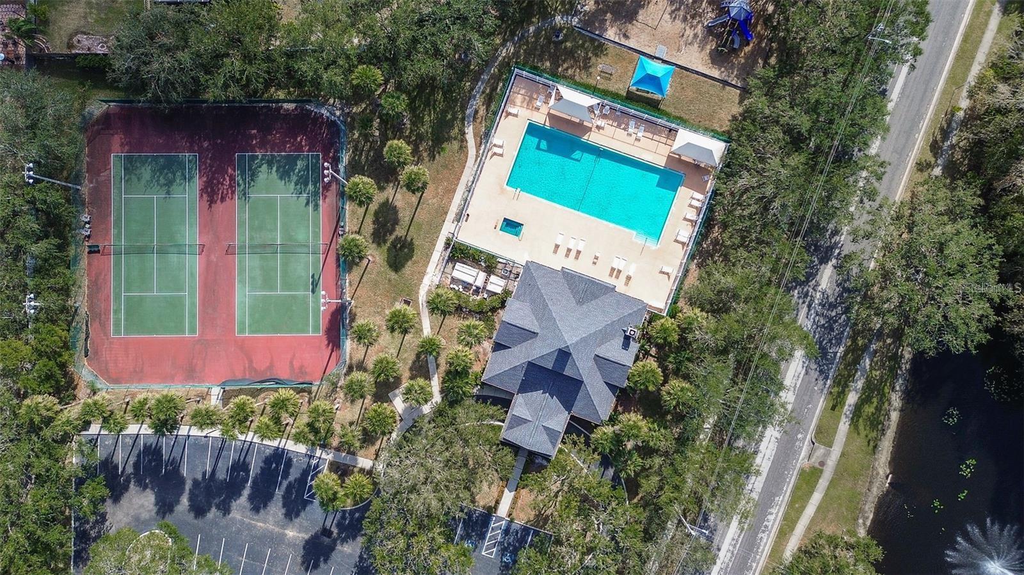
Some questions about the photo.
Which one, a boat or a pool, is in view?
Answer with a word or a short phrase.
pool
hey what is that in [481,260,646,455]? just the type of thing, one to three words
building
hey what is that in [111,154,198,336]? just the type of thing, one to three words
tennis court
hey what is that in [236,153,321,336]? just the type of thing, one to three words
tennis court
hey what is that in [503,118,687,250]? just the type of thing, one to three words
swimming pool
